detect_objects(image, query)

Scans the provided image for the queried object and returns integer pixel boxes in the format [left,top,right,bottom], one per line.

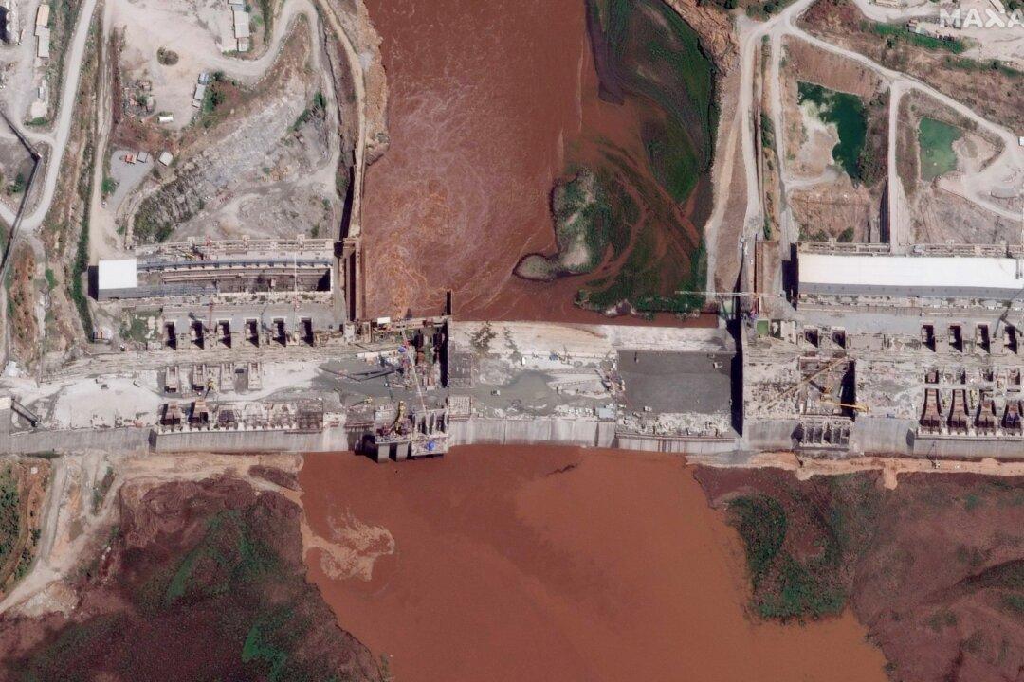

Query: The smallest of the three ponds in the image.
[919,116,960,181]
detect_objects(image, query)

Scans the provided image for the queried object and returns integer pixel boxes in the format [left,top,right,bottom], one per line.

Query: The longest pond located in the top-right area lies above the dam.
[796,79,868,181]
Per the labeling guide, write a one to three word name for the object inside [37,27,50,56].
shed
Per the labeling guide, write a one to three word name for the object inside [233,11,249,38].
shed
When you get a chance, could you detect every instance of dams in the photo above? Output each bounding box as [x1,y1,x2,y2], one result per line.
[0,311,1024,460]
